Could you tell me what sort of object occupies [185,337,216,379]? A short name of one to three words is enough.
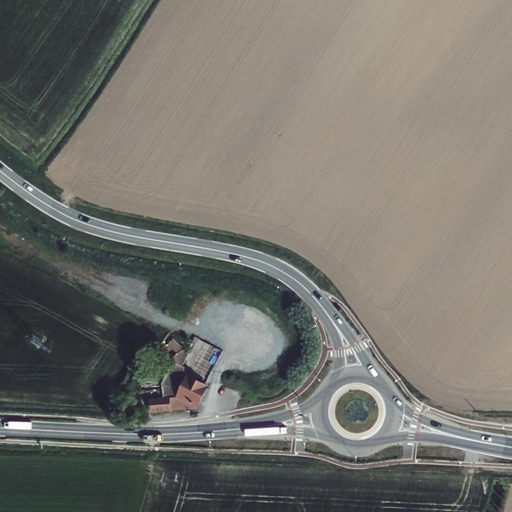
barn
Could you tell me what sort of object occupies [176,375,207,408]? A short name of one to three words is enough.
house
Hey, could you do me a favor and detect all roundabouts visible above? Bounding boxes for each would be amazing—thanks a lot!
[290,337,423,457]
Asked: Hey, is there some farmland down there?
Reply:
Yes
